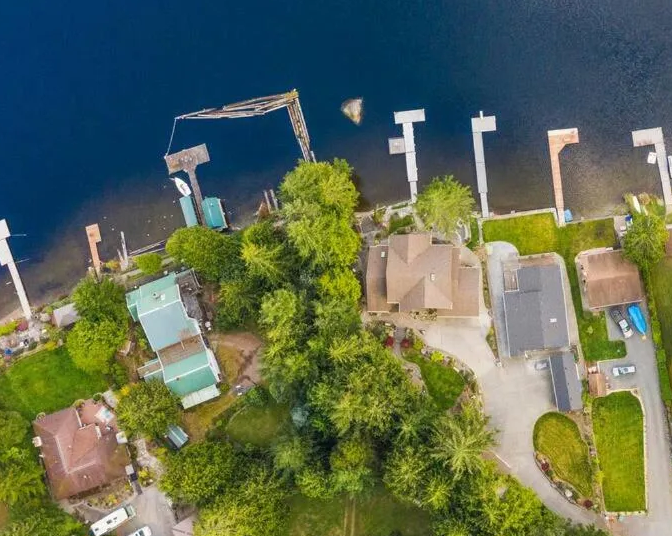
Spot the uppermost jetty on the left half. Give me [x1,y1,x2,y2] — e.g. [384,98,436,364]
[164,143,211,226]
